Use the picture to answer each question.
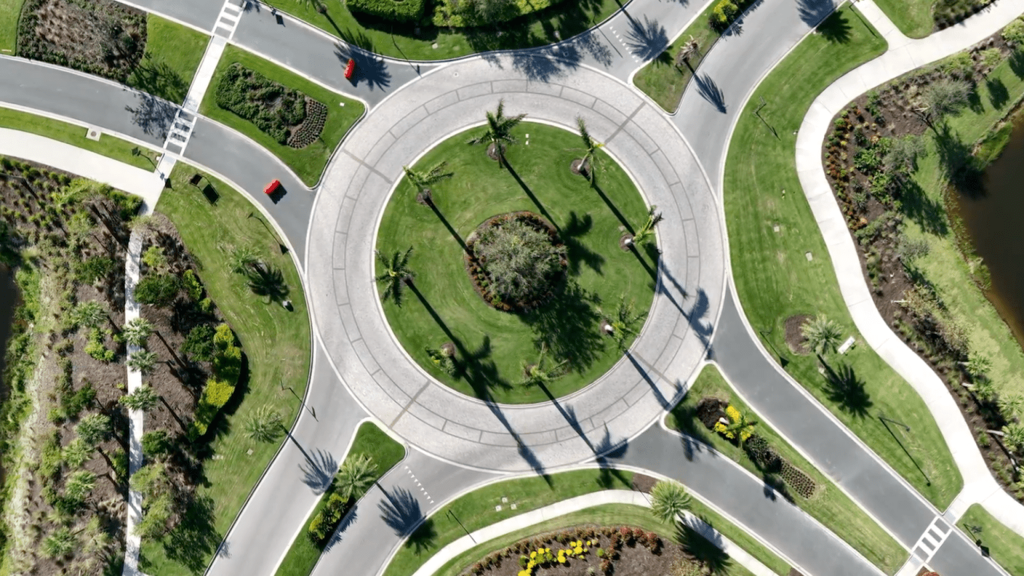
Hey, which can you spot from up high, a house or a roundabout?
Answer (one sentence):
I can see a roundabout in this picture.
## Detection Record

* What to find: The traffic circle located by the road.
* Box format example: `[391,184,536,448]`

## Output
[307,58,726,474]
